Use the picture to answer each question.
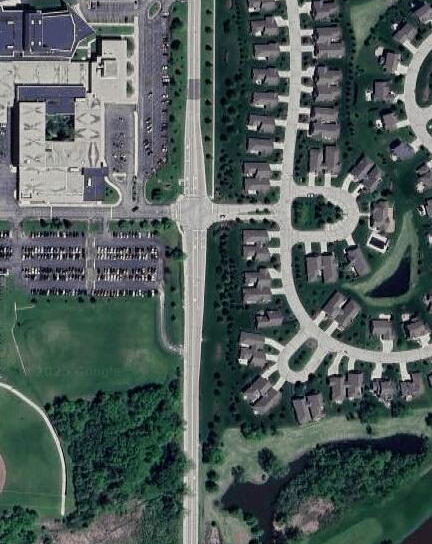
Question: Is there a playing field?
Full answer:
Yes, a playing field appears in the view.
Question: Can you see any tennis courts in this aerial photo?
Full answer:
No, there appears to be no tennis court in this shot.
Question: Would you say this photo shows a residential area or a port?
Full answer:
This looks like a residential area.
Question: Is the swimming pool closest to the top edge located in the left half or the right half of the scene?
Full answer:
The swimming pool closest to the top edge appears in the right half of the scene.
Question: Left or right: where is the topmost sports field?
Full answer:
The topmost sports field is on the left side of the image.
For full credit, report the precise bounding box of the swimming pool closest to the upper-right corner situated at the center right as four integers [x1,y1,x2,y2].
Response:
[366,230,389,251]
